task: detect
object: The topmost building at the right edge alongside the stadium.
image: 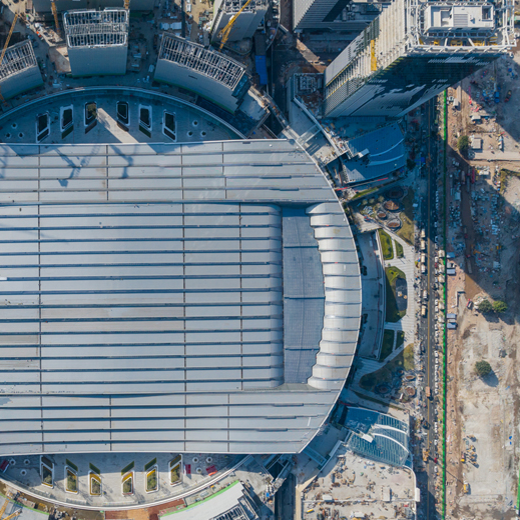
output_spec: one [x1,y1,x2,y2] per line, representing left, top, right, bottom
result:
[325,0,520,115]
